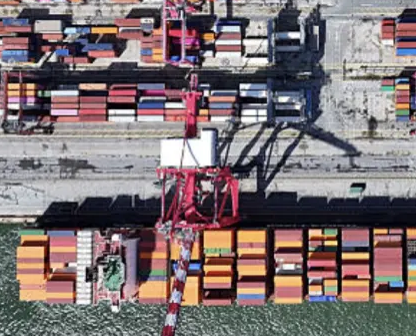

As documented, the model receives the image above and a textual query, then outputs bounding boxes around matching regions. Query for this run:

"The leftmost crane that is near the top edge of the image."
[162,0,203,69]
